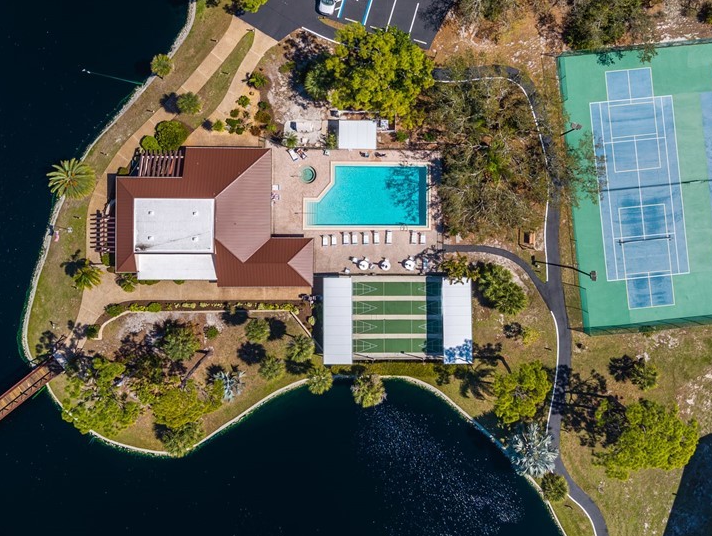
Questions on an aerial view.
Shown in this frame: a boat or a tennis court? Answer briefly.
tennis court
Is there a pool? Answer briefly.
Yes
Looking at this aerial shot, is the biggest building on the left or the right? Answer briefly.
left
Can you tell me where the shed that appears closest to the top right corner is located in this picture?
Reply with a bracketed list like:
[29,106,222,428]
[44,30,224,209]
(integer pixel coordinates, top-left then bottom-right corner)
[338,120,377,149]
